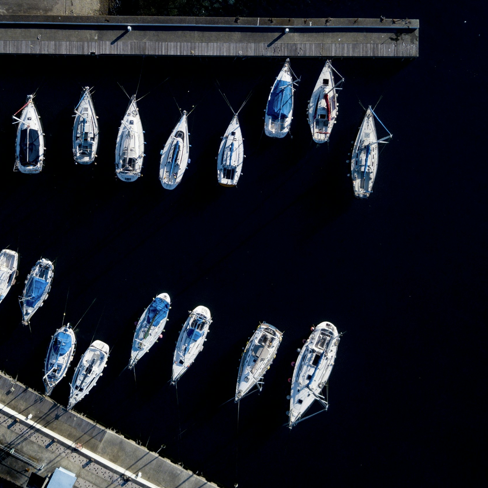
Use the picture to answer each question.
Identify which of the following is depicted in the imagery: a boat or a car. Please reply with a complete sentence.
Of the two, only a boat appears.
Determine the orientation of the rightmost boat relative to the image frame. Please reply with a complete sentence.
What the image shows is the rightmost boat lying vertically.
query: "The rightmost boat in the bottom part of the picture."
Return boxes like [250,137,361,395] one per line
[283,318,339,429]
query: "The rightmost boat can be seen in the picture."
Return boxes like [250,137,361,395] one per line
[349,105,392,198]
